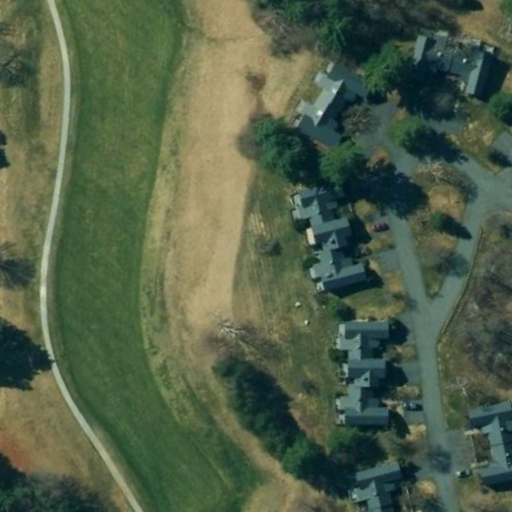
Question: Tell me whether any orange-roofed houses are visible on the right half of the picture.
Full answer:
No, looking on the right half of the picture, there is no orange-roofed house.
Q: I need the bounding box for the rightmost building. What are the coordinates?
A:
[469,401,512,488]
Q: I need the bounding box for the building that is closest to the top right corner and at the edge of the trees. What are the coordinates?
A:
[413,29,495,95]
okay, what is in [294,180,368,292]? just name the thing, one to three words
house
